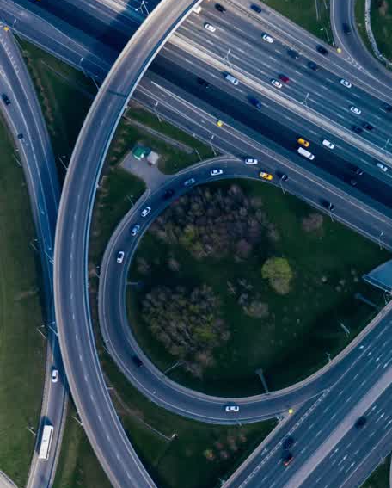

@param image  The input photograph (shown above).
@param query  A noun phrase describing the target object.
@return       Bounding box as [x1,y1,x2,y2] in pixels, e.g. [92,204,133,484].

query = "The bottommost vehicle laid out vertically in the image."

[38,425,54,461]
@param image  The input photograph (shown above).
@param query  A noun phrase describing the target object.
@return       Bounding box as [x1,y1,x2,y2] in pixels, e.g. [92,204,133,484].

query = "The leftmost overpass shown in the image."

[52,0,204,488]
